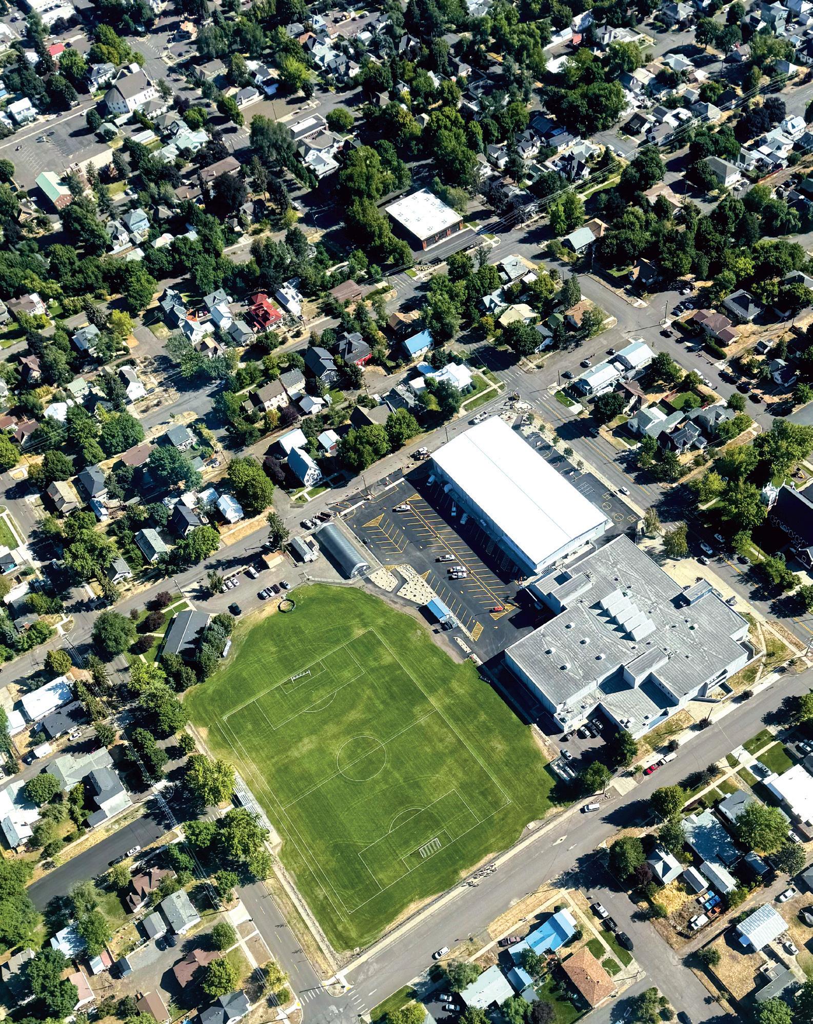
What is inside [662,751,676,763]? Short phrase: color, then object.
white vehicle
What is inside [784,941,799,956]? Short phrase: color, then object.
white car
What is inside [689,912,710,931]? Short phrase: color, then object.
white vehicle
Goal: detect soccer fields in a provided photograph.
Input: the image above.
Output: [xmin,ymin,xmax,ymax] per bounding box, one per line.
[182,582,562,955]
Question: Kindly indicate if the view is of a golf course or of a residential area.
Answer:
residential area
